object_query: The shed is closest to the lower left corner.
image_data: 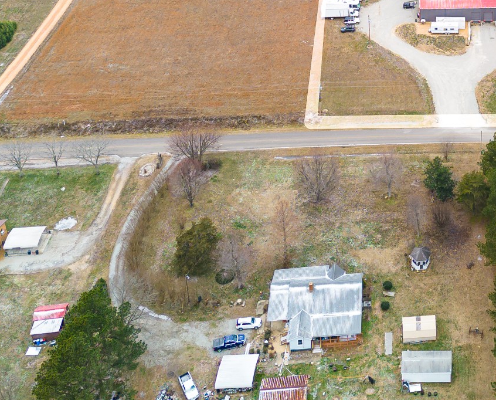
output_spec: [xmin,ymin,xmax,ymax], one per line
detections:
[26,297,74,338]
